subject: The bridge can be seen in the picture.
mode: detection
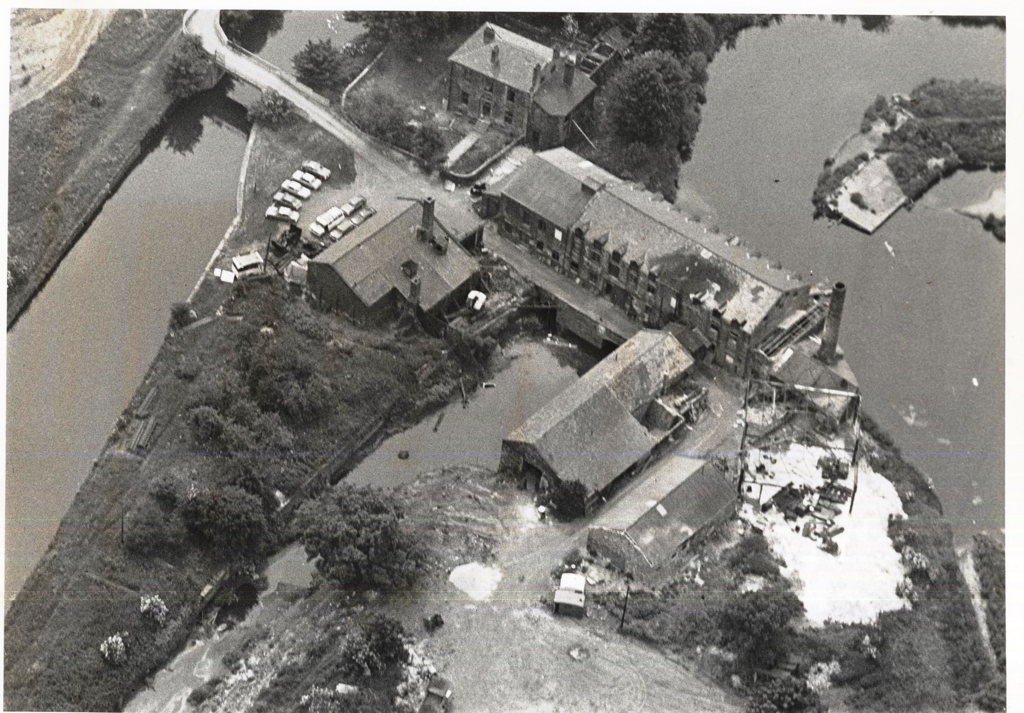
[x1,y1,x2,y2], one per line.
[182,4,331,114]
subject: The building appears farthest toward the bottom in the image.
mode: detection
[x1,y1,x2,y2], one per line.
[587,458,737,590]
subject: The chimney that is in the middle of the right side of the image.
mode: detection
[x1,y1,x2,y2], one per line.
[817,281,849,366]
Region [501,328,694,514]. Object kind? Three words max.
building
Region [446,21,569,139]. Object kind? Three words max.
house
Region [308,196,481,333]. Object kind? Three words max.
building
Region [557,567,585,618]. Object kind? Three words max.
truck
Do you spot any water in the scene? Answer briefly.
Yes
